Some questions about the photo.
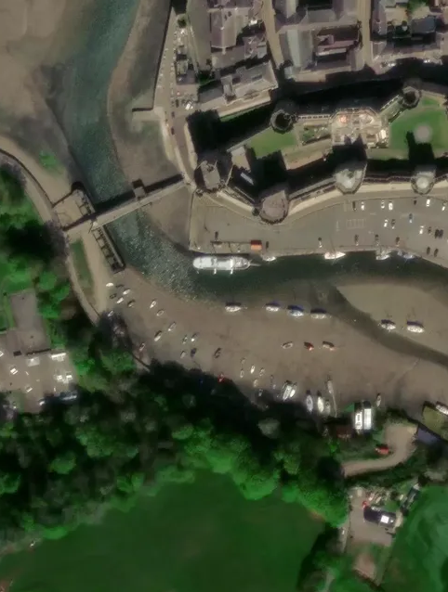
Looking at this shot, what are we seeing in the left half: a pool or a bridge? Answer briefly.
bridge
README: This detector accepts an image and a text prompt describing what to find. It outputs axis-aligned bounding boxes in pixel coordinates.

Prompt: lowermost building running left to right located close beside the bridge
[196,81,448,220]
